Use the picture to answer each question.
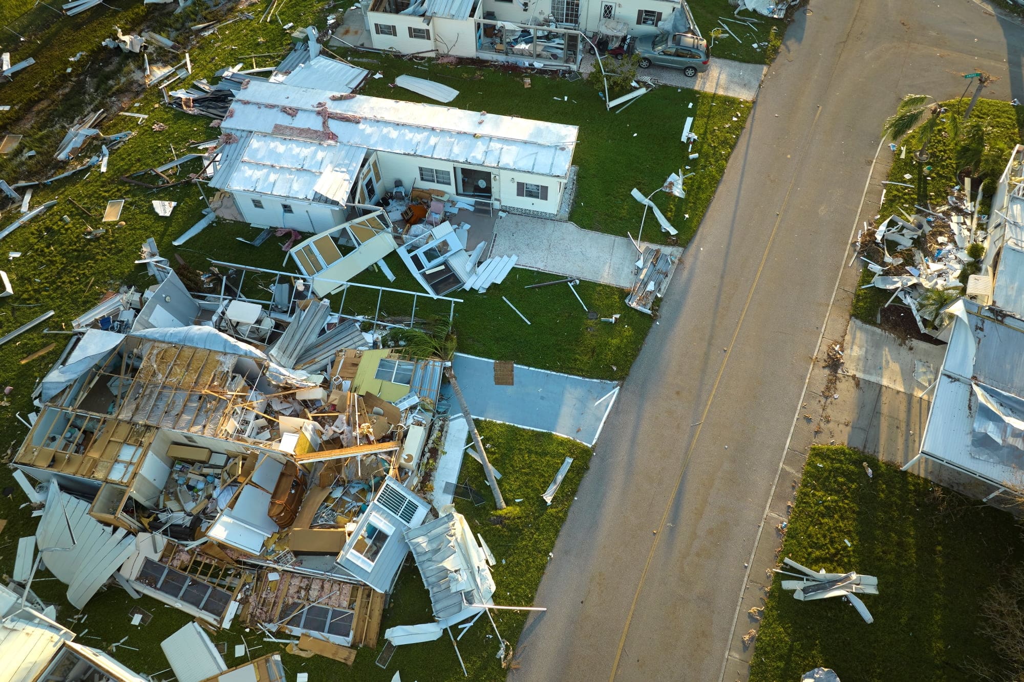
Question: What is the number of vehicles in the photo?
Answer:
2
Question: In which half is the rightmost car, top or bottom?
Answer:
top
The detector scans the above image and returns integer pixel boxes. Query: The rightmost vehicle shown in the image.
[631,31,717,78]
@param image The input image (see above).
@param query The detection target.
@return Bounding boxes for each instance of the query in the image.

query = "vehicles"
[631,31,717,78]
[587,12,634,55]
